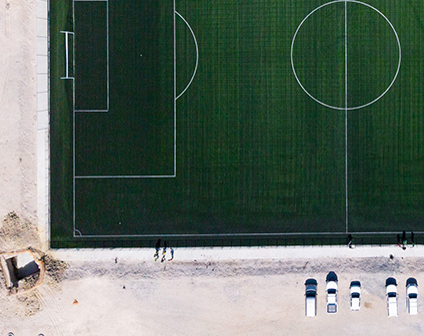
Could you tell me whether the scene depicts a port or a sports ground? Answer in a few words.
sports ground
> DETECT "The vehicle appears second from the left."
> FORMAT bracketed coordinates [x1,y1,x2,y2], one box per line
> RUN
[325,277,338,313]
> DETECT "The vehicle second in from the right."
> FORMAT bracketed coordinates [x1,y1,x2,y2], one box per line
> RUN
[384,283,397,317]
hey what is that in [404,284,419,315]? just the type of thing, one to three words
vehicle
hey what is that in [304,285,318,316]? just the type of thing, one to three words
vehicle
